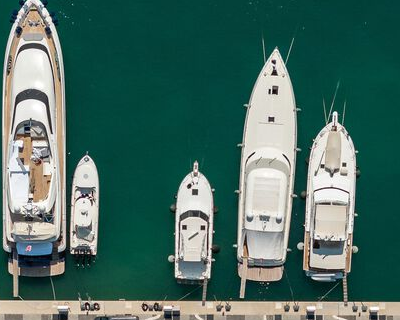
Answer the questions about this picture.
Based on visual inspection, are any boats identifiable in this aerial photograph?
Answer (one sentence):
Yes, the frame does contain a boat.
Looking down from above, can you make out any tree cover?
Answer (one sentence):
No, the picture contains no tree cover.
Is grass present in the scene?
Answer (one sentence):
No, no grass is visible.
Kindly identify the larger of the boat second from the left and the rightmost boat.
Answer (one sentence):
The rightmost boat is bigger than the boat second from the left.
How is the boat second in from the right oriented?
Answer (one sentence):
From this overhead view, the boat second in from the right appears to run up and down.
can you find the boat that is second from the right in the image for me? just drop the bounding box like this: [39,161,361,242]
[233,39,300,300]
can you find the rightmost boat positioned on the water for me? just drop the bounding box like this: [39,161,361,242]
[297,84,362,301]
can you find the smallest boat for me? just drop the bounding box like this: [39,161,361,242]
[71,151,100,266]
